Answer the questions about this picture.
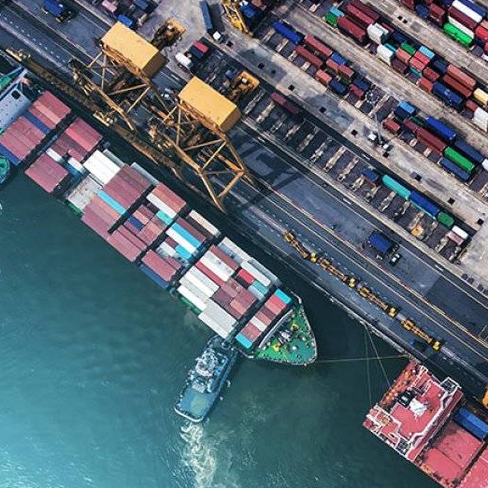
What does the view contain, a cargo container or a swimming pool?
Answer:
cargo container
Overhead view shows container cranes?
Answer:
Yes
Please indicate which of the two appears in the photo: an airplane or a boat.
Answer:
boat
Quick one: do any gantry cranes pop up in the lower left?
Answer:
No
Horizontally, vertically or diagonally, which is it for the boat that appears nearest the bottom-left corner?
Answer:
diagonally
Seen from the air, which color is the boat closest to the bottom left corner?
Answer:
blue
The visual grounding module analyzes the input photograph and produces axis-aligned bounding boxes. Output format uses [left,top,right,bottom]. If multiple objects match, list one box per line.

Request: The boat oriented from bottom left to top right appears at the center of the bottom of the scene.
[168,339,238,425]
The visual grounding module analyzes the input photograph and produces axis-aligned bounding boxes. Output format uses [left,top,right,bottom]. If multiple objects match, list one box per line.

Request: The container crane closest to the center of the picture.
[111,71,260,217]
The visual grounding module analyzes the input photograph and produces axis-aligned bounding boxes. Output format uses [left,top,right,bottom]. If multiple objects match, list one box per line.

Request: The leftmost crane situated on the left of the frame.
[21,16,184,164]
